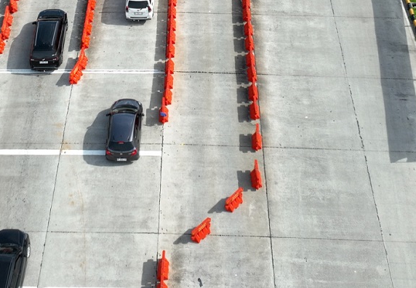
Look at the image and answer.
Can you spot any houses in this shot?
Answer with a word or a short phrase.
No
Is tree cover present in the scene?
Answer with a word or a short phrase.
No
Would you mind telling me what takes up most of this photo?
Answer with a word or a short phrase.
paved ground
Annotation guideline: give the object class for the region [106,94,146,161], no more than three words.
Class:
car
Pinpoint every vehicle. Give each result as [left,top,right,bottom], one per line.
[106,94,146,161]
[125,0,156,21]
[0,222,35,288]
[29,11,68,70]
